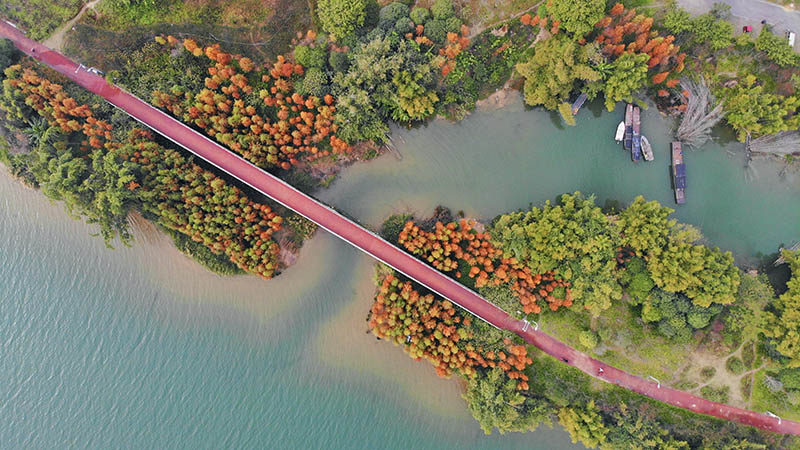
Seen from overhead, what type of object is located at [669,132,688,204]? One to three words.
vessel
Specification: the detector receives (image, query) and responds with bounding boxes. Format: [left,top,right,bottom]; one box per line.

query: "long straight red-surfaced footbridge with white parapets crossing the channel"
[102,82,506,328]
